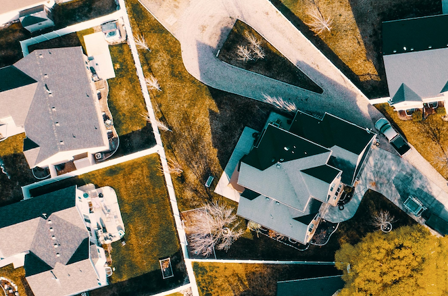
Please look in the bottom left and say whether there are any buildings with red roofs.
No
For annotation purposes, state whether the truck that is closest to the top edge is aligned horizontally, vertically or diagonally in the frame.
diagonally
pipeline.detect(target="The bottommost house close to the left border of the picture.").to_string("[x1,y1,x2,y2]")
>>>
[0,185,114,296]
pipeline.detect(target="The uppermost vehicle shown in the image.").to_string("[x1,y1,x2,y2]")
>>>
[374,119,413,158]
